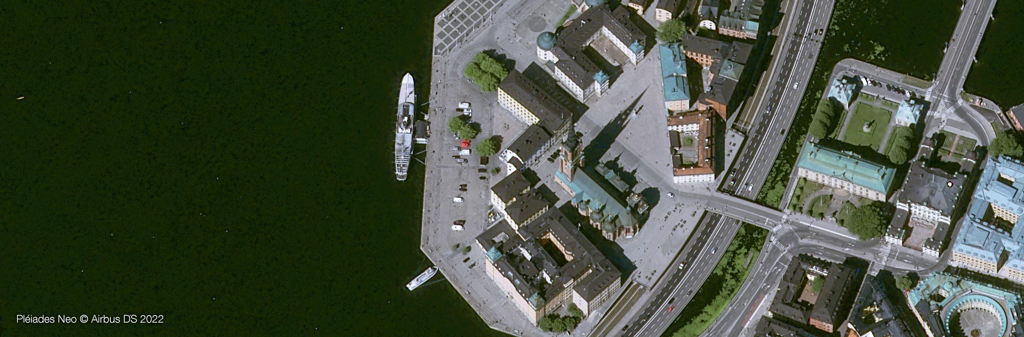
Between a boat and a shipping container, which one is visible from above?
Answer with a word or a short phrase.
boat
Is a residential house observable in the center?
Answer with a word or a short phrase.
Yes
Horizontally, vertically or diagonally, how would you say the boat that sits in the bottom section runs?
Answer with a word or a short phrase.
diagonally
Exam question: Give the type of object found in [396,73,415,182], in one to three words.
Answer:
ship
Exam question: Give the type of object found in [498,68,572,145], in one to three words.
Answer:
house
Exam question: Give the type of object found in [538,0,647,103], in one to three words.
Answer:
building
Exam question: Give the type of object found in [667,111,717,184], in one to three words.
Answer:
house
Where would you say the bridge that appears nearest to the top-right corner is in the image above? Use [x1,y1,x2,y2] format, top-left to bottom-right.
[931,0,998,93]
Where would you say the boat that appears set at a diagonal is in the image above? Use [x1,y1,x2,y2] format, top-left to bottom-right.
[406,266,438,291]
